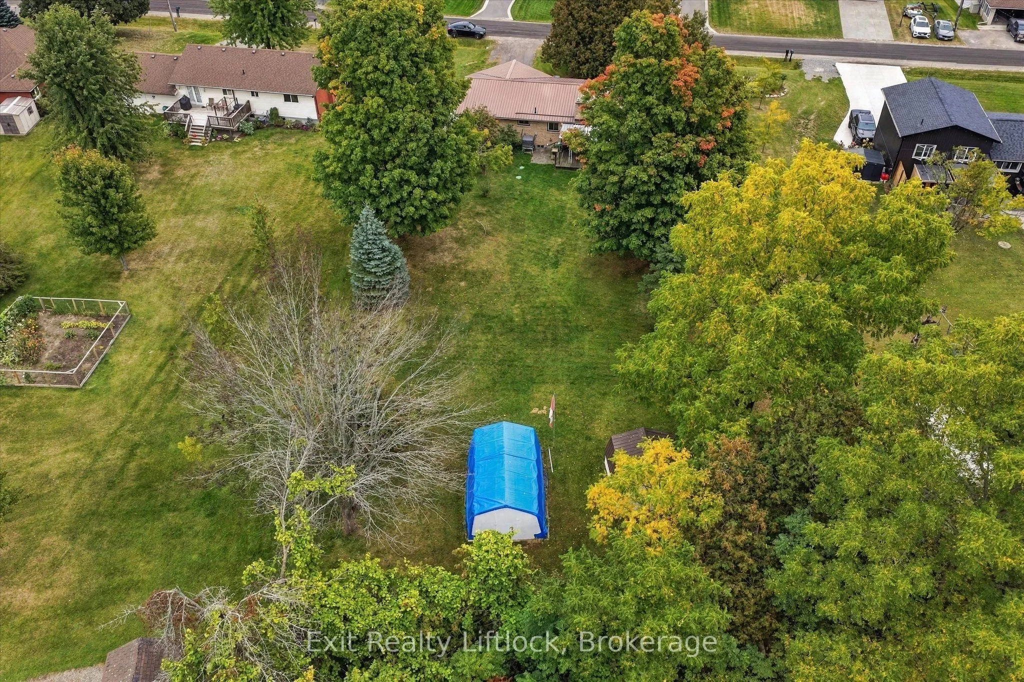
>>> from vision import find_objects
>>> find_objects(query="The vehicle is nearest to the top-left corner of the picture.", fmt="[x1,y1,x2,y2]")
[447,19,486,36]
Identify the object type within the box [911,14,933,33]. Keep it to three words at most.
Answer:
car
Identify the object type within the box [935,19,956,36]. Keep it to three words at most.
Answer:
car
